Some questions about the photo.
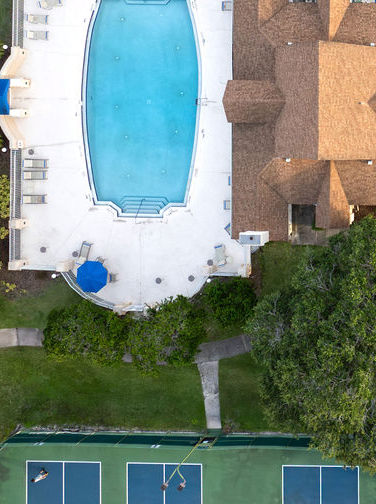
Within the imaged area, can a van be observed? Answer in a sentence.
No, there's no van here.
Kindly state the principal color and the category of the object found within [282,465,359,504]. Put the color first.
blue sports court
